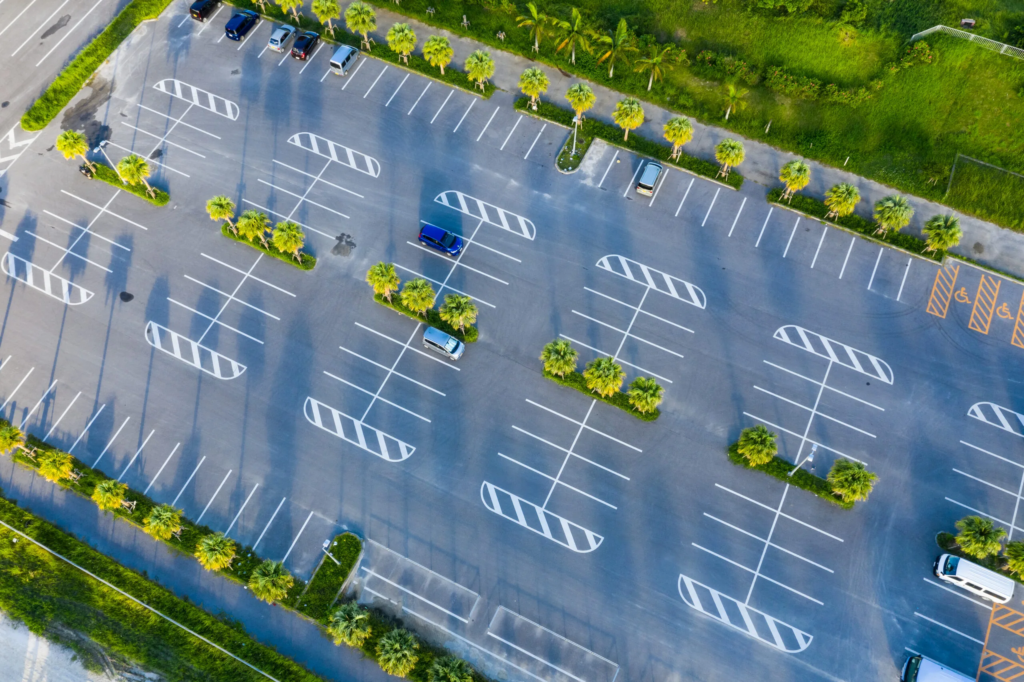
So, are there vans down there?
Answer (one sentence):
Yes, looking at the shot, I can spot a van.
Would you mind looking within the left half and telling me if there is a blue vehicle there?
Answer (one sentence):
Yes, a blue vehicle shows up within the left half.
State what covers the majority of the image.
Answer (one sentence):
The scene is dominated by paved ground.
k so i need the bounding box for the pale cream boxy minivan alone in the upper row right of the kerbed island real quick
[637,162,665,196]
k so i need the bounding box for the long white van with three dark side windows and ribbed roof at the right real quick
[930,551,1014,603]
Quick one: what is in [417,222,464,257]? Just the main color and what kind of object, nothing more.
blue car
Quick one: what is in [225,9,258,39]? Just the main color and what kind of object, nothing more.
blue car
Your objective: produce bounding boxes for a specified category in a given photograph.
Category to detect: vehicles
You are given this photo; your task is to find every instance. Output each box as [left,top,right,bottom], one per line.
[329,43,359,74]
[267,23,296,50]
[637,162,665,196]
[417,222,464,257]
[930,551,1014,603]
[225,9,258,39]
[73,162,89,178]
[187,0,219,22]
[898,656,969,682]
[290,27,322,58]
